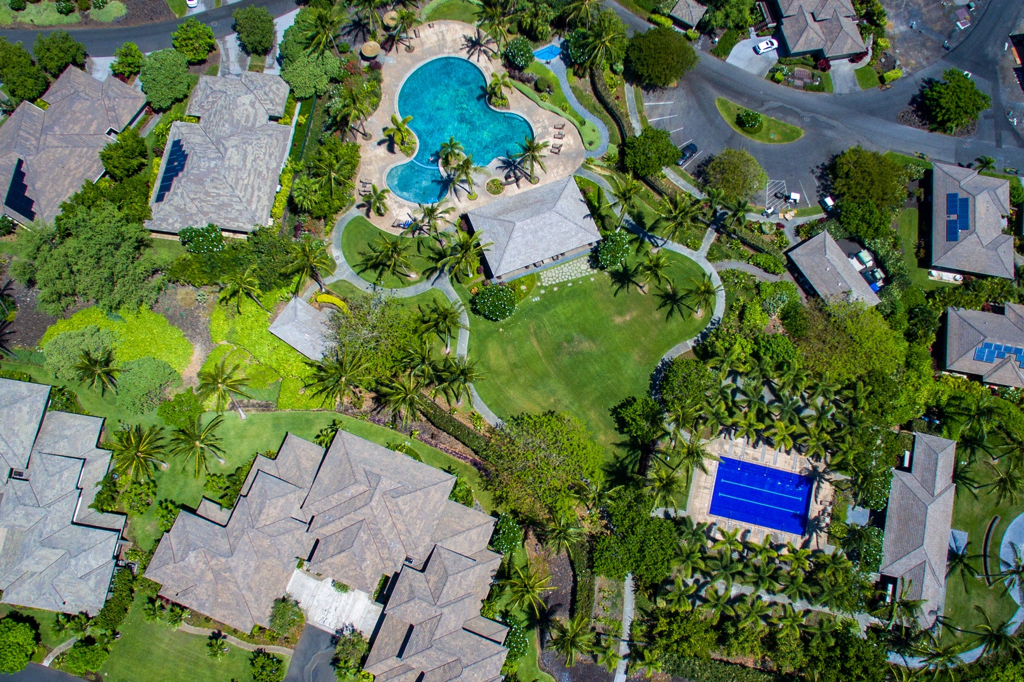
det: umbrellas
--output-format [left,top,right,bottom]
[362,42,380,57]
[383,12,397,28]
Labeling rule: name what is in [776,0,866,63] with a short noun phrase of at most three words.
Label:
house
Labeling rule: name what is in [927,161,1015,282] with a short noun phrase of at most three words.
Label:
house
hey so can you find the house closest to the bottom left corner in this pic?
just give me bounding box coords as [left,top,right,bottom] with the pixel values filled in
[0,377,129,618]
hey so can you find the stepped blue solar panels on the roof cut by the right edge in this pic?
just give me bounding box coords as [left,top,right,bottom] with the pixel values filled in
[974,342,1024,368]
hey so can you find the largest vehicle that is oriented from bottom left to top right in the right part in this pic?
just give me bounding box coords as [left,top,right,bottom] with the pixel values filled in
[678,142,698,164]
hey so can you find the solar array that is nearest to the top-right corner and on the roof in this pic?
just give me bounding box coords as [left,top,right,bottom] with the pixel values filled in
[947,193,970,241]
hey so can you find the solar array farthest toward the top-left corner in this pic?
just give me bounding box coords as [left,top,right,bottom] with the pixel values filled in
[4,158,36,221]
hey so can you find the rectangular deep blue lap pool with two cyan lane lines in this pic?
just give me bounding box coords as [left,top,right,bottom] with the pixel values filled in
[707,454,816,539]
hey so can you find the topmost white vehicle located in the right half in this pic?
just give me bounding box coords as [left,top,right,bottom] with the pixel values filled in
[754,37,780,51]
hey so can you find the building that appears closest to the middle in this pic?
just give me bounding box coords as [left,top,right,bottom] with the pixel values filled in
[466,175,603,284]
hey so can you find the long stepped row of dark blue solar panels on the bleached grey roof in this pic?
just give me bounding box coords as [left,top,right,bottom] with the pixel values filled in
[155,140,191,202]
